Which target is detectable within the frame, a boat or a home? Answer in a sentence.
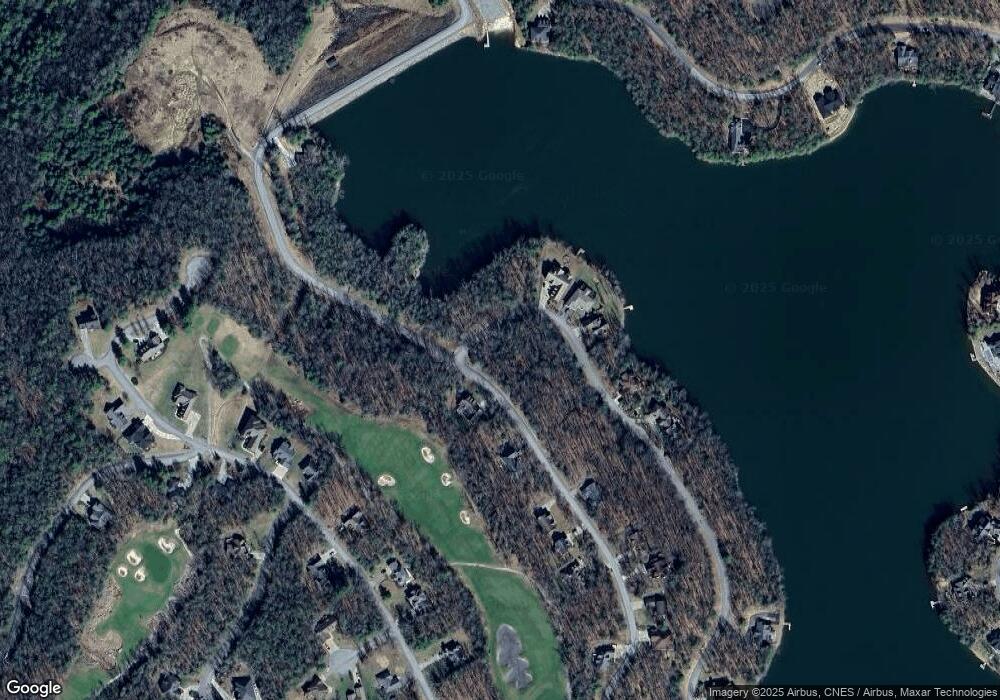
There is a home in the scene.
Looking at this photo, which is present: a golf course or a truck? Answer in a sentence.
There is a golf course in the scene.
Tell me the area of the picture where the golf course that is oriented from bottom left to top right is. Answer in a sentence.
The golf course that is oriented from bottom left to top right sits in the bottom left section of the image.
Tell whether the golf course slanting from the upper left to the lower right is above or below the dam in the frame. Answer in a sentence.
Within the scene, the golf course slanting from the upper left to the lower right can be found below the dam.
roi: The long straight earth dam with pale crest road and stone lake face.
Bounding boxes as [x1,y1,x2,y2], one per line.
[262,0,481,144]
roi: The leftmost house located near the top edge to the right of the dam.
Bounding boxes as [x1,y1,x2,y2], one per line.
[531,26,551,47]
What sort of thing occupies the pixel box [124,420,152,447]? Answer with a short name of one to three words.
house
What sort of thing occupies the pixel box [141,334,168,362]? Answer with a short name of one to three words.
house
